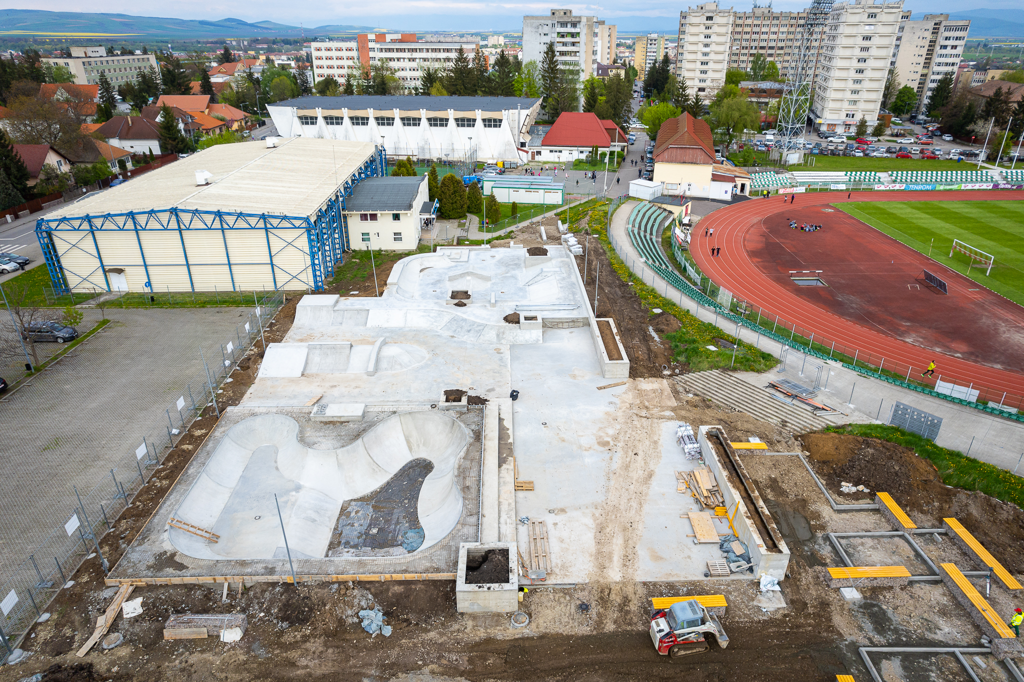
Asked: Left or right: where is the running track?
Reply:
right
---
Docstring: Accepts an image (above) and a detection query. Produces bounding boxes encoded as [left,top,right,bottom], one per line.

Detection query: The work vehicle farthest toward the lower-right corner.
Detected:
[656,608,737,665]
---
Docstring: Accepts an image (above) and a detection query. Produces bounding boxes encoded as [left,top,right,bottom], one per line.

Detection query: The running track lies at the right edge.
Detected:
[686,190,1024,416]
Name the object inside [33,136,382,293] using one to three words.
building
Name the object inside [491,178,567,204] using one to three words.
building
